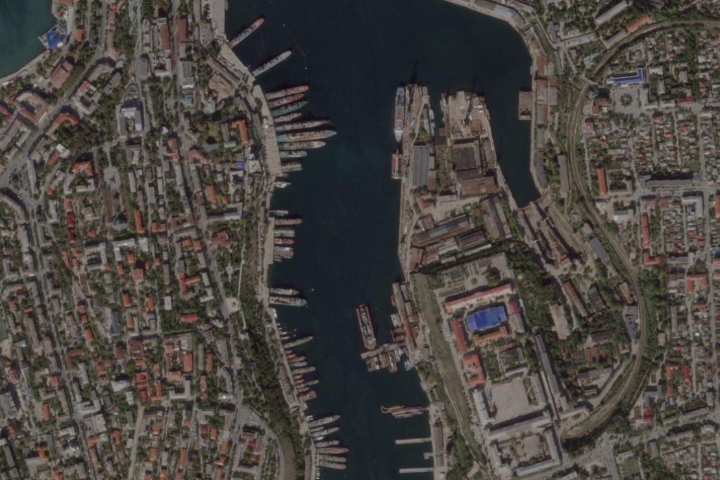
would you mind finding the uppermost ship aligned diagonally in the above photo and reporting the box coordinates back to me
[227,20,263,48]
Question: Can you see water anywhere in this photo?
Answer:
Yes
